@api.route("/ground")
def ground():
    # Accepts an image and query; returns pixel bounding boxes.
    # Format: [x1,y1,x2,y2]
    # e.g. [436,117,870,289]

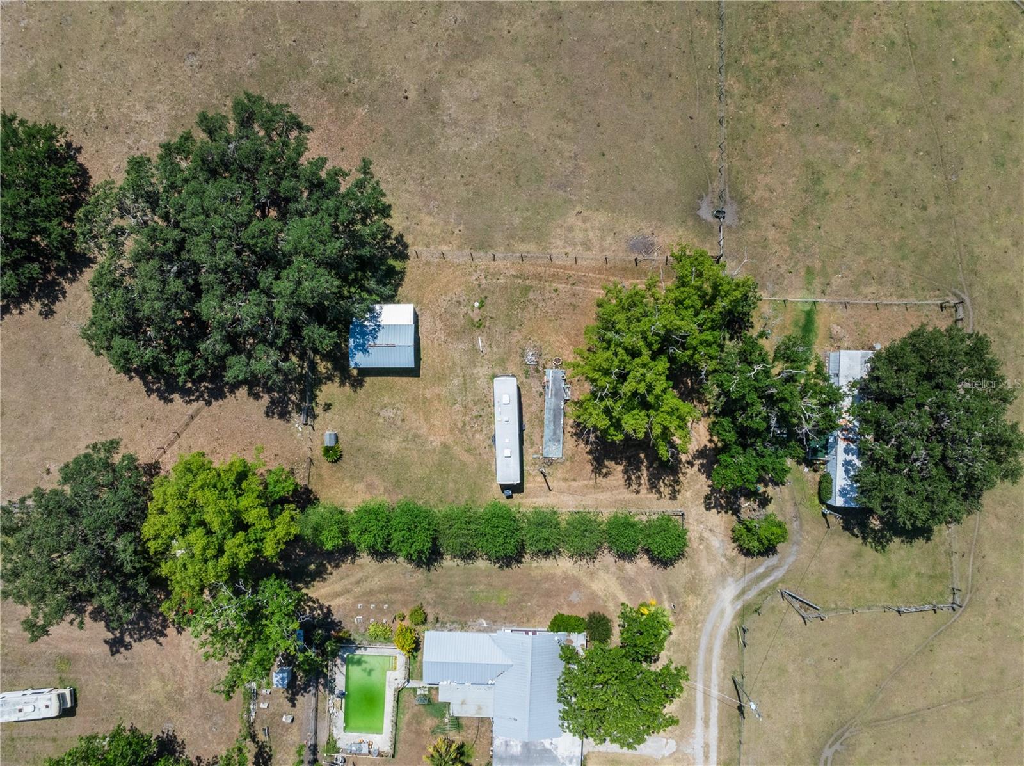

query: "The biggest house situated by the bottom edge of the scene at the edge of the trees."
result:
[423,622,566,742]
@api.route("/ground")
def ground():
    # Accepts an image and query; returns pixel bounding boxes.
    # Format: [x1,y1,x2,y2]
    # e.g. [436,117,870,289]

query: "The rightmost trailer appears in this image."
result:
[542,370,566,458]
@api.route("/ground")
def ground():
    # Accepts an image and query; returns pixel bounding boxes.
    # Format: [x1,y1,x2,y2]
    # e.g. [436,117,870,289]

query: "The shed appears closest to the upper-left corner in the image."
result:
[350,304,416,367]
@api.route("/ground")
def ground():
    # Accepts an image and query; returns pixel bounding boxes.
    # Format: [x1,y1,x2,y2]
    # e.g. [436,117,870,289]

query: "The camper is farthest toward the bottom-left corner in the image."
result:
[0,683,82,720]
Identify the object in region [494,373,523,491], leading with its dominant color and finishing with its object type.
white trailer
